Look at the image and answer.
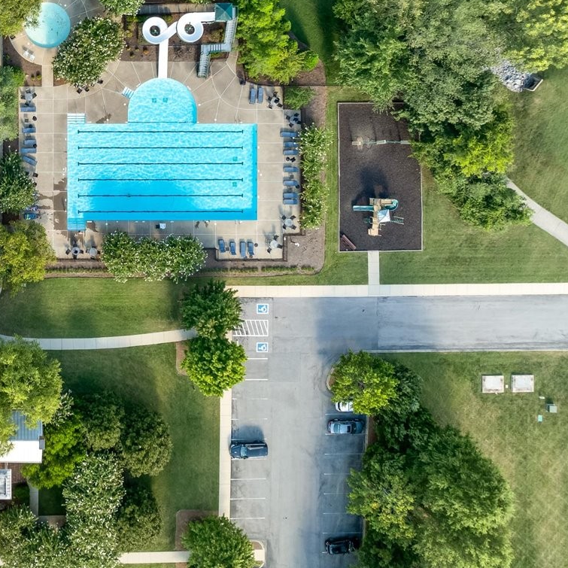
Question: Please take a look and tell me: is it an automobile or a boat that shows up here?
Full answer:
There is an automobile in the scene.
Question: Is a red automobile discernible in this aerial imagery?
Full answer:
No, there isn't any red automobile down there.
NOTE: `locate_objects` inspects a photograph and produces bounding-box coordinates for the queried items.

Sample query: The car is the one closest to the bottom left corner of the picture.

[230,444,270,463]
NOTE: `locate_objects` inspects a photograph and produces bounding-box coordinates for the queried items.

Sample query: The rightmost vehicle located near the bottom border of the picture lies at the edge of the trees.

[325,538,362,559]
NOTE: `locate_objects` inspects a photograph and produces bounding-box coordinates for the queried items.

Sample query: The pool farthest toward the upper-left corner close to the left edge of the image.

[24,3,70,49]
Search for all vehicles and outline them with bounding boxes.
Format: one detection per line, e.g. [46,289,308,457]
[329,420,367,438]
[335,400,373,417]
[325,538,362,559]
[230,444,270,463]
